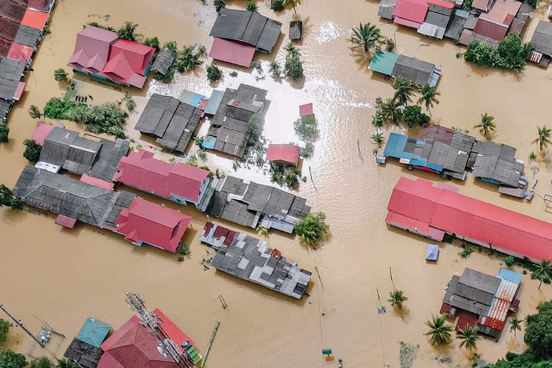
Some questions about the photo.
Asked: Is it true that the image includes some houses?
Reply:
Yes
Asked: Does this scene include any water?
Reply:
Yes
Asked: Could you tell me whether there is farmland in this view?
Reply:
No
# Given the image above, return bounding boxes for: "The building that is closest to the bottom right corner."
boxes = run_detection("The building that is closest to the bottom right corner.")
[440,267,523,338]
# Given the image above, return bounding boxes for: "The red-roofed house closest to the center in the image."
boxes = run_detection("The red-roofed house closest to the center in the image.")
[267,145,300,166]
